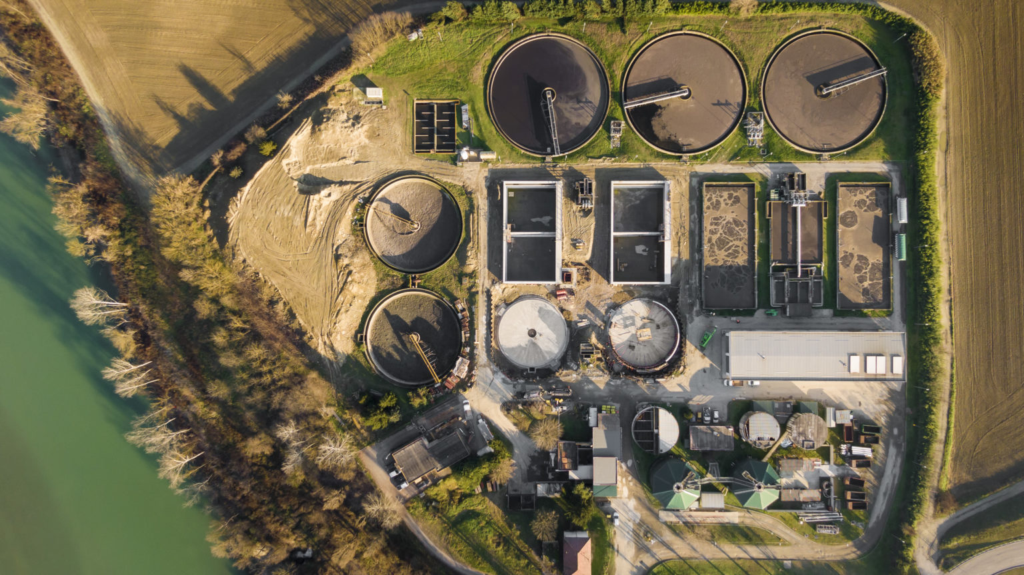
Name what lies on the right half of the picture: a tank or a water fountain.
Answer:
tank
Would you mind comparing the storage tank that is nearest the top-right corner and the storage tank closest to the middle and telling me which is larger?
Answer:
the storage tank that is nearest the top-right corner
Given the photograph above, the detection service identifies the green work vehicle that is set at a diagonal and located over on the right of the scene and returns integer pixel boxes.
[699,326,719,349]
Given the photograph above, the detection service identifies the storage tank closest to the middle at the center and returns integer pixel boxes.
[496,296,569,373]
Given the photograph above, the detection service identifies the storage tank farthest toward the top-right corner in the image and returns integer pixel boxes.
[761,27,889,159]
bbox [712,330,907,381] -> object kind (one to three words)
shed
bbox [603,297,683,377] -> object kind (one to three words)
storage tank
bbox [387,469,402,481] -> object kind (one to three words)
vehicle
